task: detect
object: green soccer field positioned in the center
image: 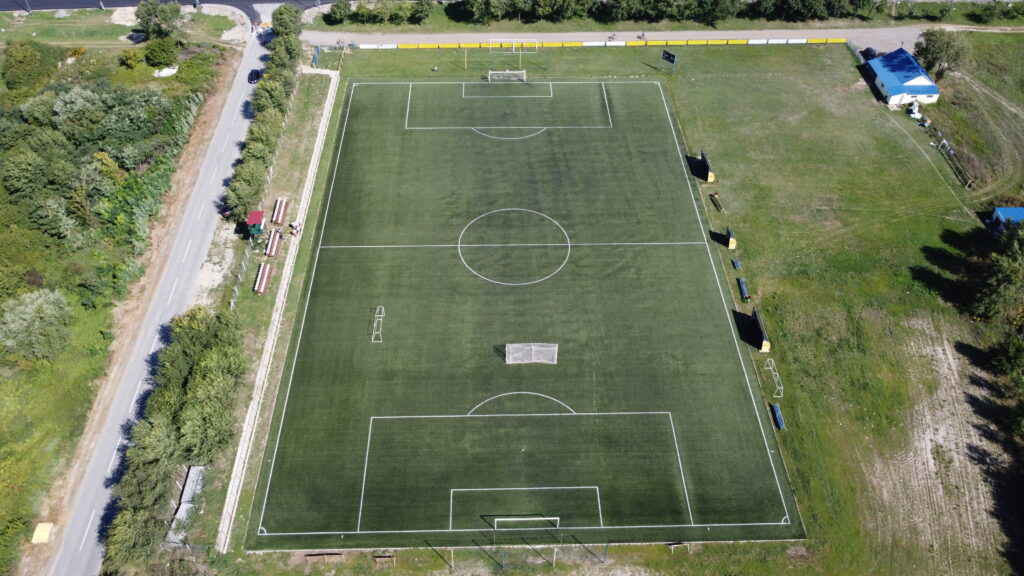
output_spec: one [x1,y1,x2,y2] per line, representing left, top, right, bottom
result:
[241,76,809,554]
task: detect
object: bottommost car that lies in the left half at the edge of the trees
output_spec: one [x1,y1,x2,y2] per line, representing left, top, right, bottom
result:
[249,68,263,81]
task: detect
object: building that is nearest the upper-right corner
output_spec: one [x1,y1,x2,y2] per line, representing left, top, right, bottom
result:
[867,43,940,109]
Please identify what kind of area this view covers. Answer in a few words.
sports ground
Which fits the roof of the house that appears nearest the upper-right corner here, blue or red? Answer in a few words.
blue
